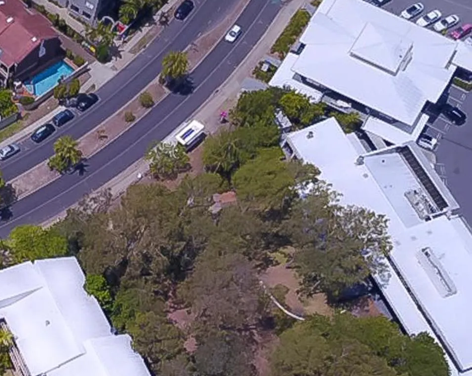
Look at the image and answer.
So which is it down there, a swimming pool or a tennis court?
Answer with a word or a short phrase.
swimming pool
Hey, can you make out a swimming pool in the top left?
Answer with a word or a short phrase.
Yes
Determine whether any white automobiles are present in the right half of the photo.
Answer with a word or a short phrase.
Yes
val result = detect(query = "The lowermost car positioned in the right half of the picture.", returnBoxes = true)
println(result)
[415,133,440,152]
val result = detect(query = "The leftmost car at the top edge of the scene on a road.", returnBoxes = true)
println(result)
[174,1,193,20]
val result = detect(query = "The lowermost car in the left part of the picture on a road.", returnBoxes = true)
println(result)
[0,143,22,161]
